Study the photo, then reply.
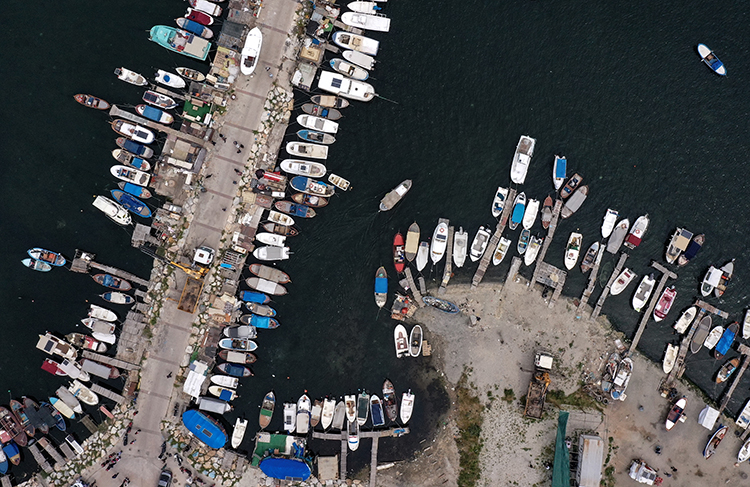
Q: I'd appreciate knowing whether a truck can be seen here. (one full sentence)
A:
Yes, the image includes a truck.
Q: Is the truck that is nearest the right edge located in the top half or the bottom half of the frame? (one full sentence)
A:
The truck that is nearest the right edge is in the bottom half of the image.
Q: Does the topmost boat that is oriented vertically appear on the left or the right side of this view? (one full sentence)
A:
The topmost boat that is oriented vertically is on the left side of the image.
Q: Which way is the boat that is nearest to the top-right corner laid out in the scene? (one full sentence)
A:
From this overhead view, the boat that is nearest to the top-right corner appears to run on a diagonal.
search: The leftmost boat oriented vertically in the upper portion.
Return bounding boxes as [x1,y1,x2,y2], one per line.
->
[238,26,264,77]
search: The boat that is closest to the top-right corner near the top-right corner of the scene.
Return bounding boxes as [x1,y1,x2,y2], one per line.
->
[694,42,728,78]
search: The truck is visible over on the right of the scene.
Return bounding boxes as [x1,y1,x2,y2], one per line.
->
[519,349,565,418]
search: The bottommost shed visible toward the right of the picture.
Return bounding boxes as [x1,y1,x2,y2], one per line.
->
[570,434,612,487]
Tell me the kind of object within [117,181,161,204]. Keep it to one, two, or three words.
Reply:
boat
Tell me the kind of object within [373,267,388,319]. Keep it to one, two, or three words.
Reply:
boat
